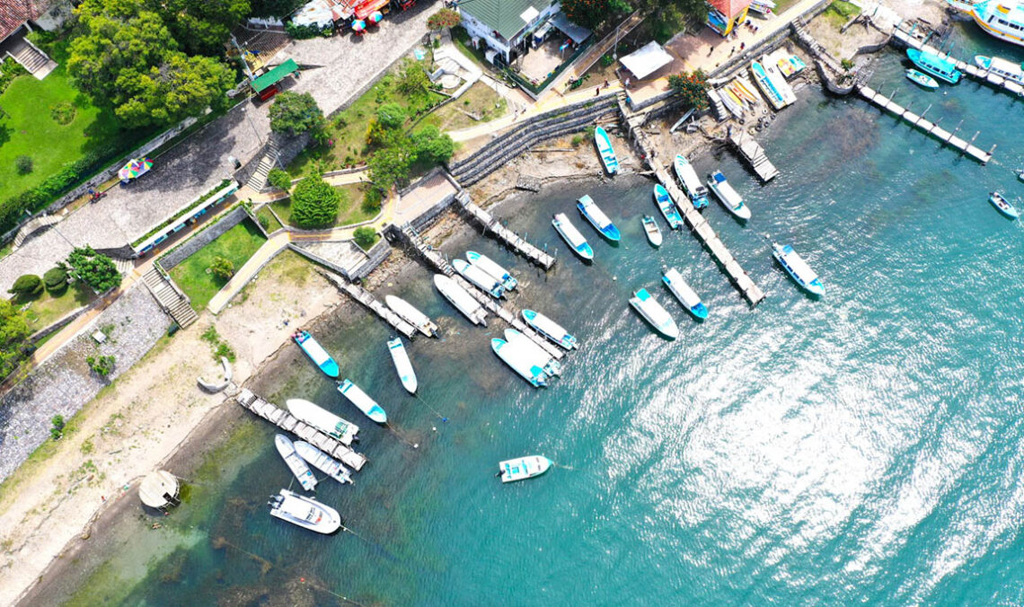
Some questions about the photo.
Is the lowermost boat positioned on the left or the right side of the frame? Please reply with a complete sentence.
It is on the left.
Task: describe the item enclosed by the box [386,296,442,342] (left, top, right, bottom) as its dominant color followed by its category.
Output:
white boat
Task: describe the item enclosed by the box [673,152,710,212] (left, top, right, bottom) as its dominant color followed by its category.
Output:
white boat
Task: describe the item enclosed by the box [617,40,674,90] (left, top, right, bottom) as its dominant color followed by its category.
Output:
white tent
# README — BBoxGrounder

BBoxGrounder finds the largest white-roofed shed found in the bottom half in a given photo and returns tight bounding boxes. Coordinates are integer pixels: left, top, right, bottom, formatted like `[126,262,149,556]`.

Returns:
[133,470,178,510]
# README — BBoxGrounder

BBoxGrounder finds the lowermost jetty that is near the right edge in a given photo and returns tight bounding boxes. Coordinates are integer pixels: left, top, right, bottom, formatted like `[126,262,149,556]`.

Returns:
[855,81,1002,166]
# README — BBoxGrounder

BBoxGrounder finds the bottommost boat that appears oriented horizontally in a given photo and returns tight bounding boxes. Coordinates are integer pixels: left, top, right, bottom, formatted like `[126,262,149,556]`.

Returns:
[265,493,341,534]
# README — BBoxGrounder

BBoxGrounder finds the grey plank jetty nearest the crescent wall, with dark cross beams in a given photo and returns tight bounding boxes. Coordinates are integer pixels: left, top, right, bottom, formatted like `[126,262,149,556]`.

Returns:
[237,390,369,475]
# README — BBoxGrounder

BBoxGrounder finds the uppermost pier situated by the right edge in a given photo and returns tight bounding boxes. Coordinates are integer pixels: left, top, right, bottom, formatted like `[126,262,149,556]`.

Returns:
[893,17,1024,100]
